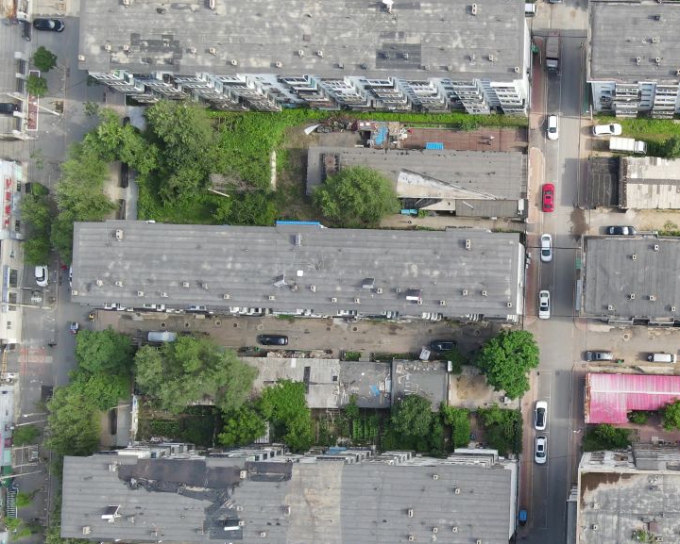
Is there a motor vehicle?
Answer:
Yes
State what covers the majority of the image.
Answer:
buildings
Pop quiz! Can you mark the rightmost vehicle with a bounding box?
[649,350,676,363]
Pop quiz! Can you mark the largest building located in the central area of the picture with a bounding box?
[71,217,530,327]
